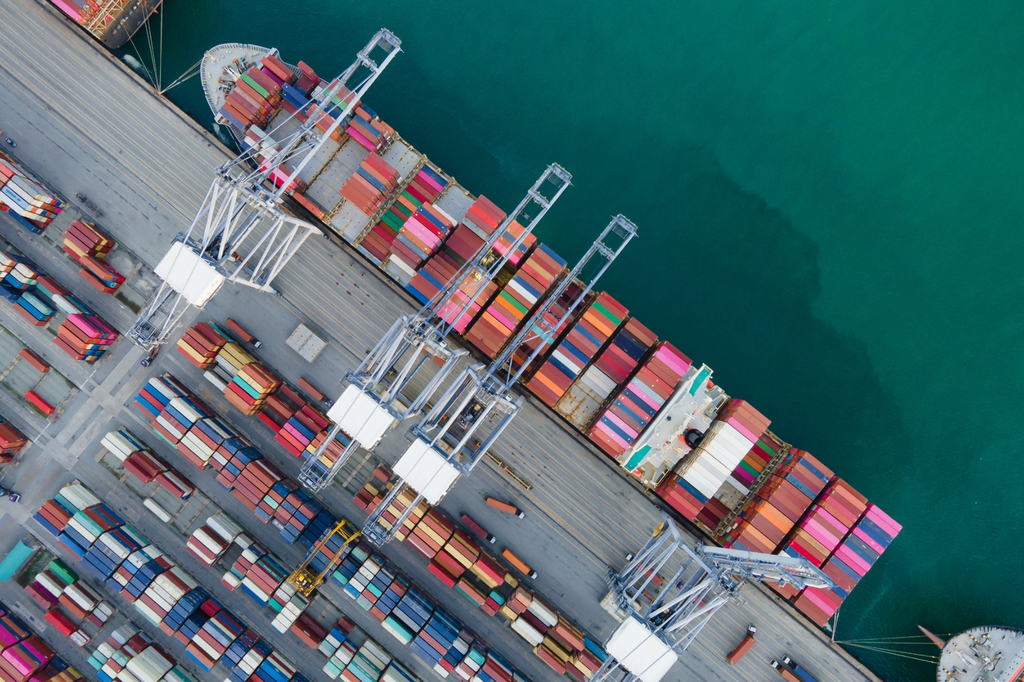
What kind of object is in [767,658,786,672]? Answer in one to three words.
vehicle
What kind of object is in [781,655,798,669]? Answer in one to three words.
vehicle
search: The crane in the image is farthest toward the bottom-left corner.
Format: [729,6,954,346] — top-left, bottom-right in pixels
[278,517,367,605]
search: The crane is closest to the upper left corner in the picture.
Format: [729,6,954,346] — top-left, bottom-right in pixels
[132,24,406,360]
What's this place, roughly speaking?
port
